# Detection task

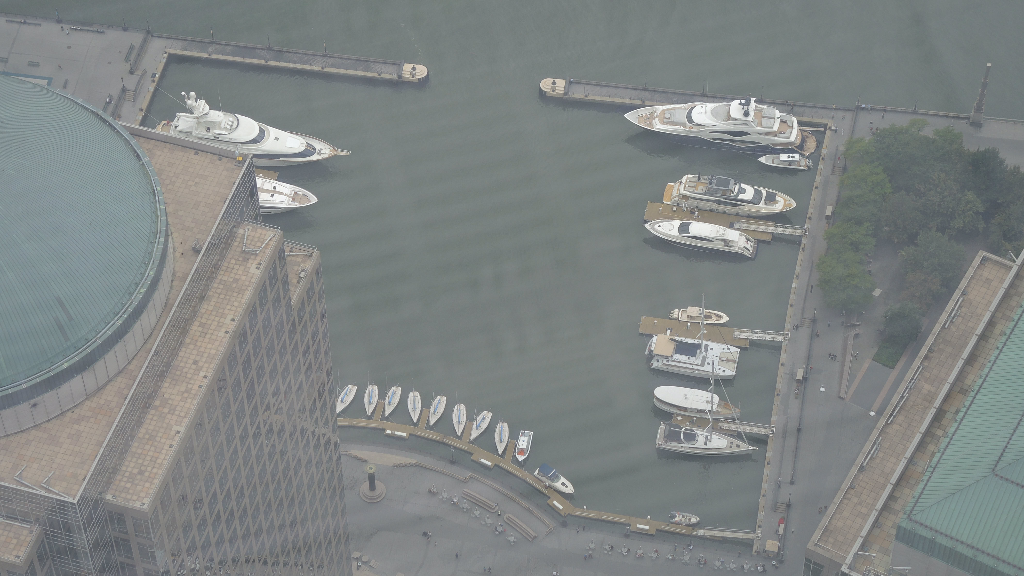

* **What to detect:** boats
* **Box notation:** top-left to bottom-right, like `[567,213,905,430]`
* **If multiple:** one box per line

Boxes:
[532,466,573,495]
[514,431,532,463]
[668,511,701,524]
[385,379,402,416]
[364,377,379,416]
[337,376,356,414]
[472,406,493,440]
[430,391,447,426]
[624,92,834,158]
[644,293,740,380]
[657,360,758,455]
[645,221,757,258]
[158,88,350,168]
[495,415,510,455]
[453,399,467,436]
[758,153,811,172]
[663,170,796,222]
[653,386,740,419]
[263,179,317,214]
[408,384,422,423]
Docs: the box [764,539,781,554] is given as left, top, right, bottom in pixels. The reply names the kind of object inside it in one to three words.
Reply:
umbrella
